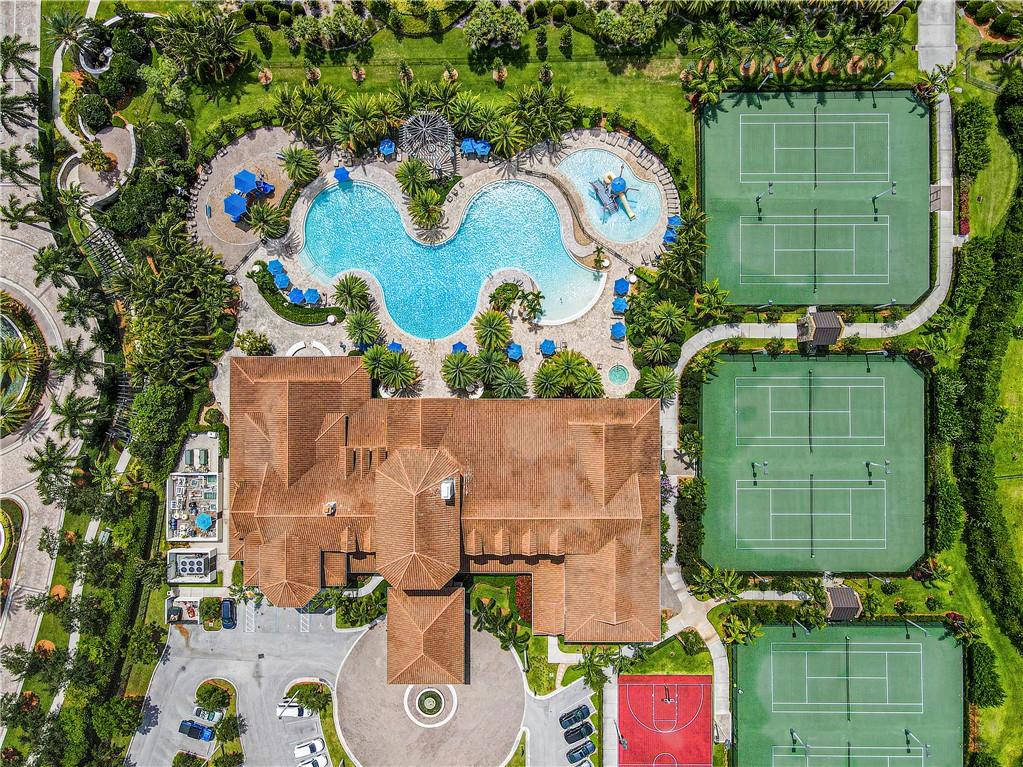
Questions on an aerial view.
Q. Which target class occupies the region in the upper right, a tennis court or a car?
tennis court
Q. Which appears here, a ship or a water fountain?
water fountain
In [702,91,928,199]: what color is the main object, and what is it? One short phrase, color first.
green tennis court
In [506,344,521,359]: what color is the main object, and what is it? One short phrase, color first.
blue umbrella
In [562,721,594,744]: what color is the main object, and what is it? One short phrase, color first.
black car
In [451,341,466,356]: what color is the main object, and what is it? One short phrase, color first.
blue umbrella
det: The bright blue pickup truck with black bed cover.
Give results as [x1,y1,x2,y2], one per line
[177,719,215,740]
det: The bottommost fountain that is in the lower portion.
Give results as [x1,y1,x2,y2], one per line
[417,689,444,716]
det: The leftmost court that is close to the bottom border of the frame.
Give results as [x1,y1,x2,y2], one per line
[618,674,710,767]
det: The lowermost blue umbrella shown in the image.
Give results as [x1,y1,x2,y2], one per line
[197,511,213,527]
